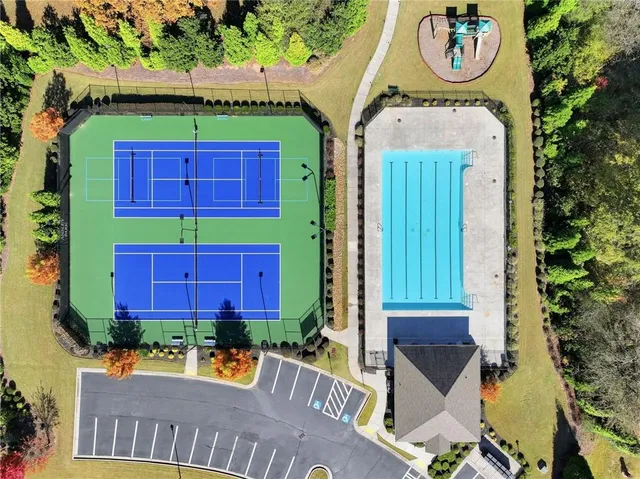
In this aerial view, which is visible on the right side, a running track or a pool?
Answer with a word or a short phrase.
pool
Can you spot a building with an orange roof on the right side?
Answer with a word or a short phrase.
No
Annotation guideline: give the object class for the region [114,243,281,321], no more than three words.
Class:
tennis court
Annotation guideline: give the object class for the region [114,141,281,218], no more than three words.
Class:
tennis court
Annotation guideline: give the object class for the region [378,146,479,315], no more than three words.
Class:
swimming pool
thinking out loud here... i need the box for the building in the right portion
[393,344,481,456]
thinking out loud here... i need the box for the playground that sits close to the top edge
[433,23,491,68]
